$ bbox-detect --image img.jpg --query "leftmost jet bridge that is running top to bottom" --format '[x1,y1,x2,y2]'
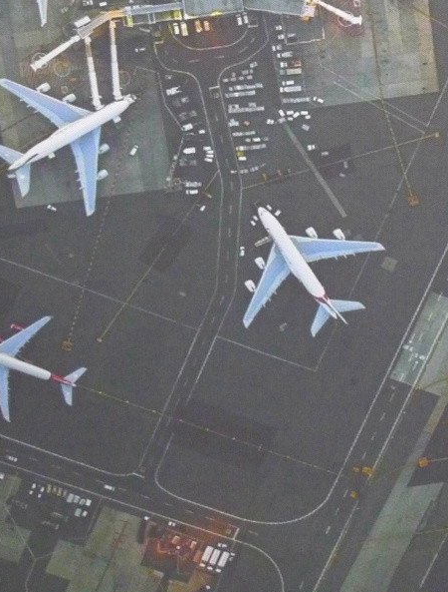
[81,35,104,112]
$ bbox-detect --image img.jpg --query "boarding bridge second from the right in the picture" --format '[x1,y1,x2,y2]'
[106,20,124,102]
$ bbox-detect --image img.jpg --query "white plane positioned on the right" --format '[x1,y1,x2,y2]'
[249,207,383,341]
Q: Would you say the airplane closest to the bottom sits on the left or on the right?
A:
left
